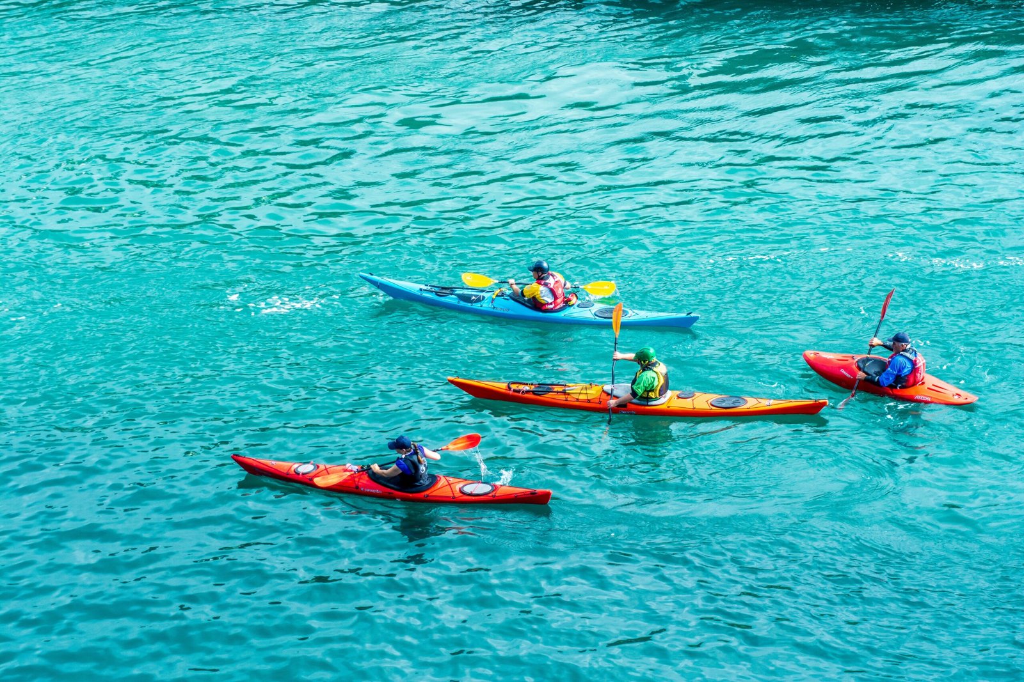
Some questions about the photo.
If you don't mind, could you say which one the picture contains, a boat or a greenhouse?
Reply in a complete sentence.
The one in the frame is a boat.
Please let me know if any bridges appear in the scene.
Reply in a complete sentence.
No, I can't see a single bridge in this photo.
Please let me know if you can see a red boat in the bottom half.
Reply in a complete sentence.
Yes, I can see a red boat in the bottom half.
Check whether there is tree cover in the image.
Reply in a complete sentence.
No, there's no tree cover in this view.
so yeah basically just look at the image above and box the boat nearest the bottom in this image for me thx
[231,455,551,510]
